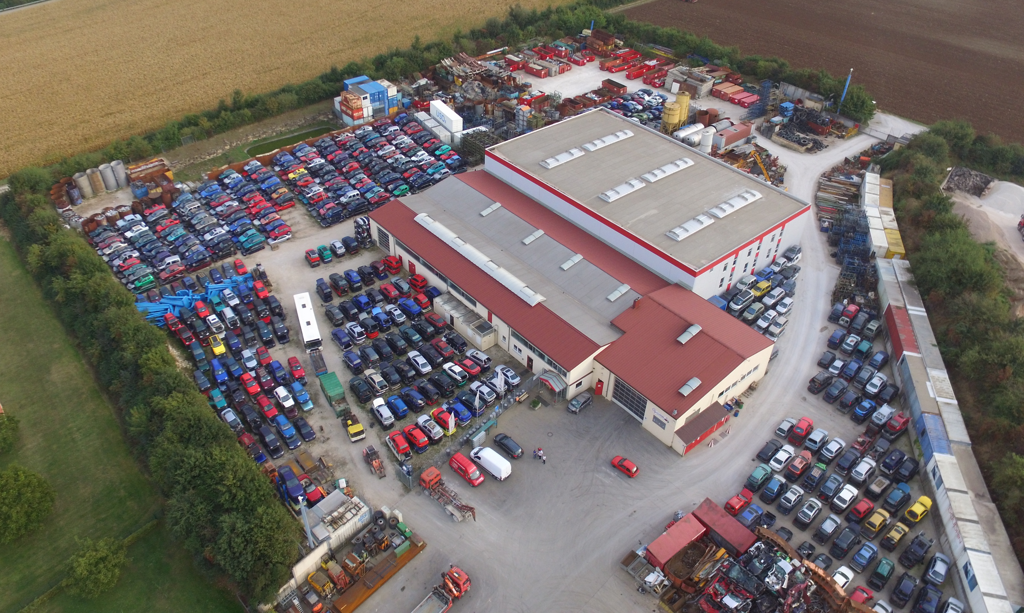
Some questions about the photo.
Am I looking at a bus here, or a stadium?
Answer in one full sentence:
It is a bus that can be seen here.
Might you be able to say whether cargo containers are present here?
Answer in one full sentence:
Yes, the frame does contain a cargo container.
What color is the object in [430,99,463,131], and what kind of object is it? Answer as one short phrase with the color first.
white shipping container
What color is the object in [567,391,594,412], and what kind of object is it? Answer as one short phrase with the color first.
gray car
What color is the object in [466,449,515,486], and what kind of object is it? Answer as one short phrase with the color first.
white van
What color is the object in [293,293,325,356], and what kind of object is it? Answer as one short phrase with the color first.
white bus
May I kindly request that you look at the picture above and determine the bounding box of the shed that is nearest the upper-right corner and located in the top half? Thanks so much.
[885,134,914,153]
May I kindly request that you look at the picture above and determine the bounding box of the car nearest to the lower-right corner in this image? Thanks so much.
[937,592,966,613]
